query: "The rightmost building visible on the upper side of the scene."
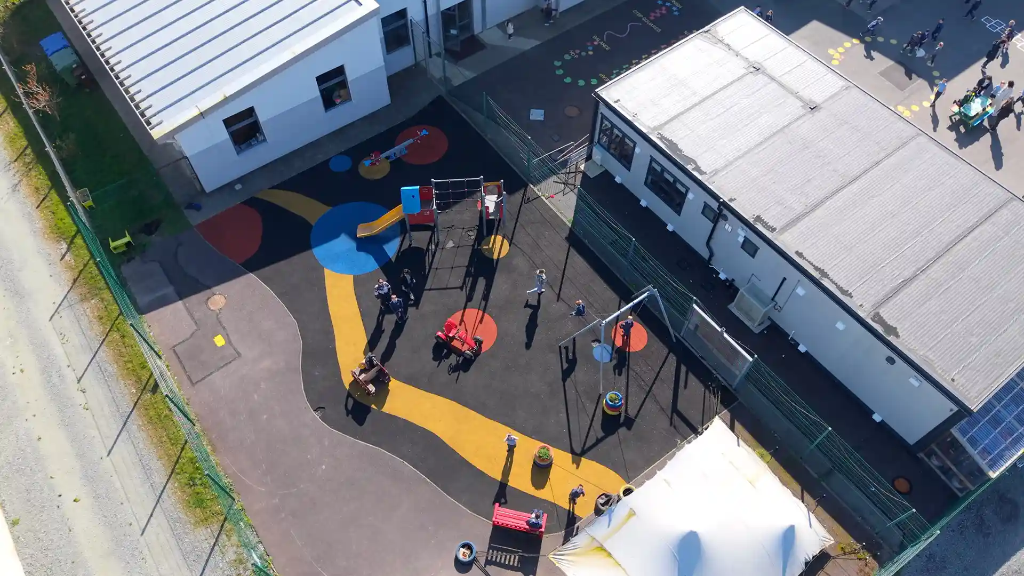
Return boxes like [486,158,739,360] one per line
[588,5,1024,440]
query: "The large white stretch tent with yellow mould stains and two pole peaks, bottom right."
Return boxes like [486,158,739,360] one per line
[476,392,863,576]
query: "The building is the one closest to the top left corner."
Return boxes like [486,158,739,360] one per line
[55,0,390,192]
